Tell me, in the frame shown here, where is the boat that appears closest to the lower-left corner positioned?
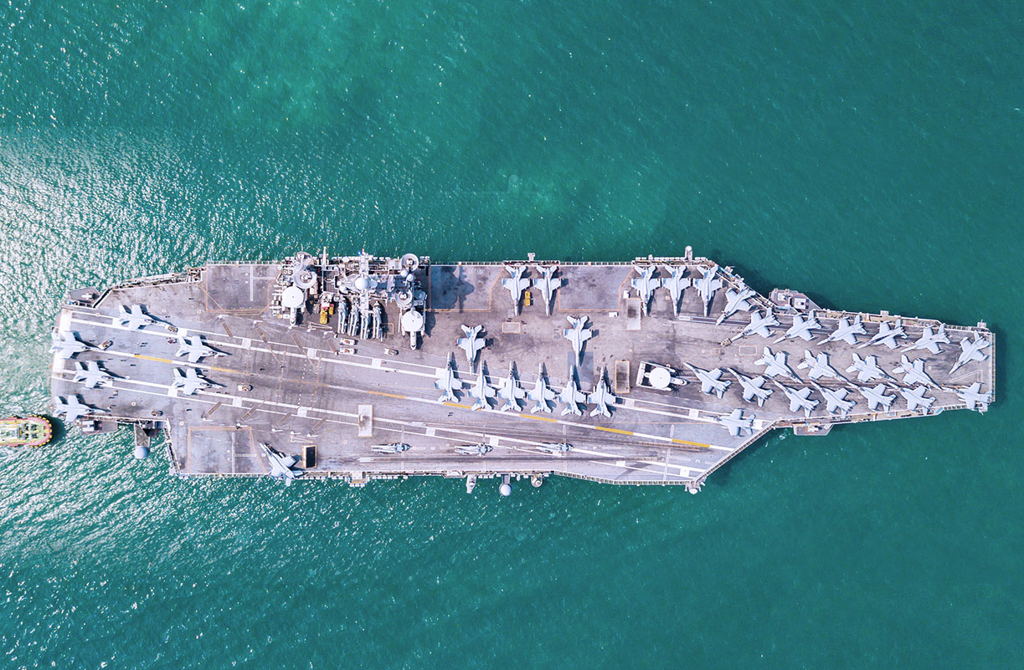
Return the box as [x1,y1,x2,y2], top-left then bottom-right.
[0,414,51,450]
